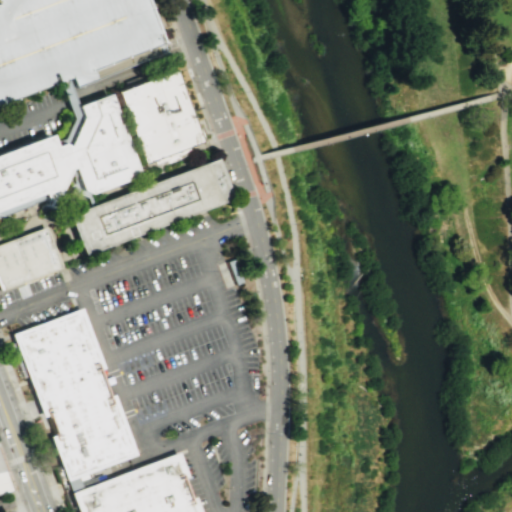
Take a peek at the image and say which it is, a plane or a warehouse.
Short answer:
warehouse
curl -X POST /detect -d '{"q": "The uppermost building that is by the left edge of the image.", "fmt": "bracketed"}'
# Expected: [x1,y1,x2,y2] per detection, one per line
[0,0,168,100]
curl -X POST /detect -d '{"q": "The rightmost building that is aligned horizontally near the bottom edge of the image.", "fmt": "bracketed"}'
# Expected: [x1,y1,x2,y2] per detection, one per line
[75,449,207,512]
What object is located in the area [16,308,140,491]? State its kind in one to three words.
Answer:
warehouse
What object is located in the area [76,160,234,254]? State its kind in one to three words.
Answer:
building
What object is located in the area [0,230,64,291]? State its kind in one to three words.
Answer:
building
